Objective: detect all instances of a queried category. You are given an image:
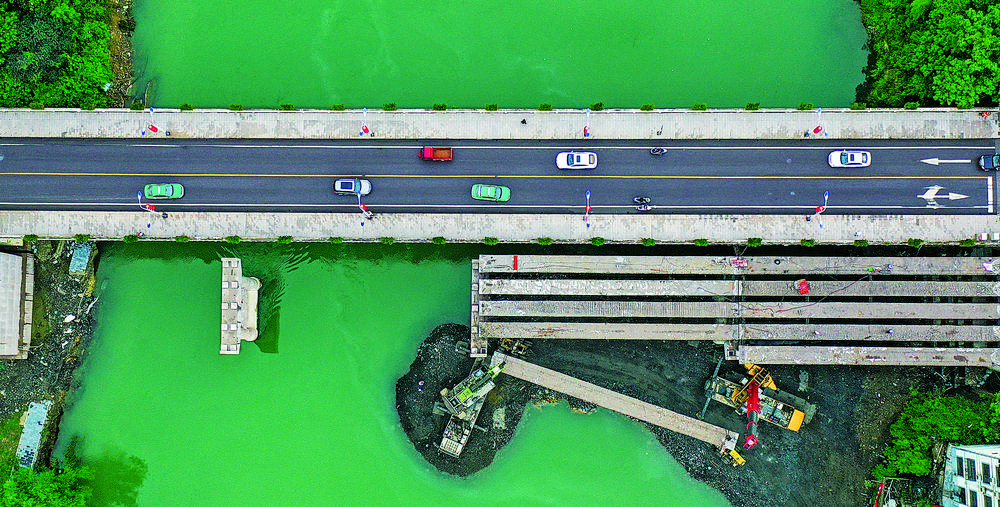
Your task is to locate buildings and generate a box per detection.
[67,246,99,276]
[0,252,39,362]
[10,402,48,469]
[941,444,1000,507]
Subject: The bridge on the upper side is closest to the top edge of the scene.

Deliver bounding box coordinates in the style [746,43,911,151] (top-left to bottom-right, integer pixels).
[0,106,1000,246]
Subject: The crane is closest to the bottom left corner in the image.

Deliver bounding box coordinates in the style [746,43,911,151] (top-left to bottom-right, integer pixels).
[432,357,508,461]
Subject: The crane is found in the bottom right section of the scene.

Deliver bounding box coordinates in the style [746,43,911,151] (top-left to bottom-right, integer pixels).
[702,357,808,452]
